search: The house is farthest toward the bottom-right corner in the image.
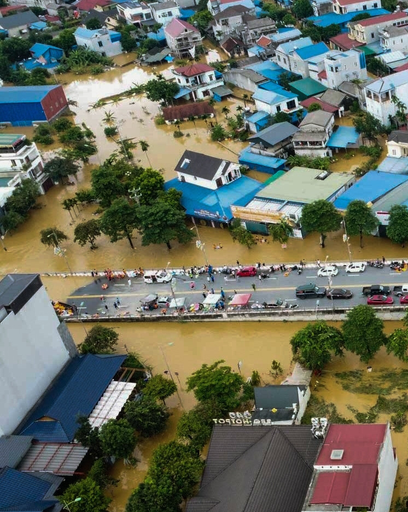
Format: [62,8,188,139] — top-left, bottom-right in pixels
[300,420,394,512]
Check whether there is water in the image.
Yes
